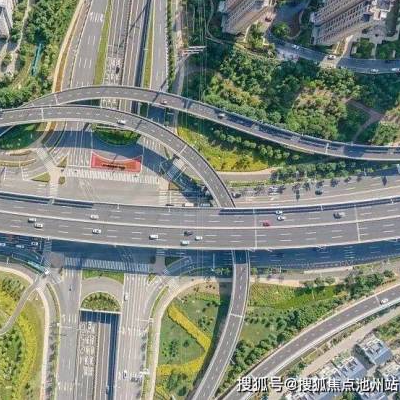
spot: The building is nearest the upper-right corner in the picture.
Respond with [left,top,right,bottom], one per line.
[310,0,395,44]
